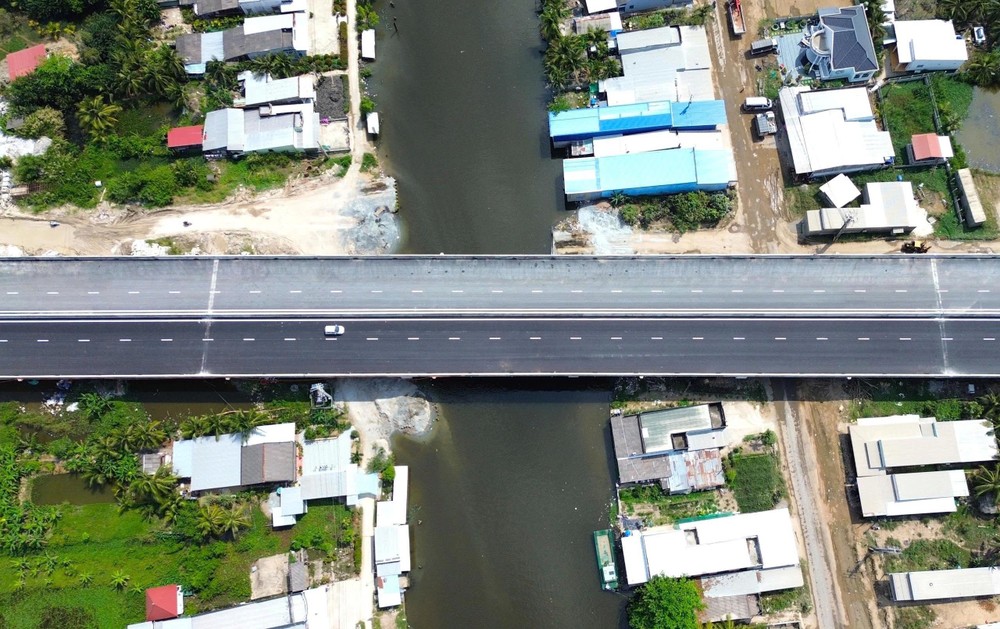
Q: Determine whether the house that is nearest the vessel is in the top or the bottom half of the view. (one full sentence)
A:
The house that is nearest the vessel is in the bottom half of the image.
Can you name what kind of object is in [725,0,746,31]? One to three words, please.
truck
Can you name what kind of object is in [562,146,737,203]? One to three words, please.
building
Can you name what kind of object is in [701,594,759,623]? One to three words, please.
house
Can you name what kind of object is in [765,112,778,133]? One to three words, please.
vehicle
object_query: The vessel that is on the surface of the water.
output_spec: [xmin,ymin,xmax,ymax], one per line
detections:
[594,530,621,590]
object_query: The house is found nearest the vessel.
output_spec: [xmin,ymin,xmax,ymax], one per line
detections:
[620,508,799,584]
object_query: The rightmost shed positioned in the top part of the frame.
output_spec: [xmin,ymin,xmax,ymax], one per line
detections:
[955,168,986,229]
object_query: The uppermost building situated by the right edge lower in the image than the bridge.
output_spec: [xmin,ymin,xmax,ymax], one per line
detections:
[844,415,998,477]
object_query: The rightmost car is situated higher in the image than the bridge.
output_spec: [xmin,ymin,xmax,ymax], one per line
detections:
[973,28,985,43]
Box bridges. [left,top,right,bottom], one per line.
[0,252,1000,381]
